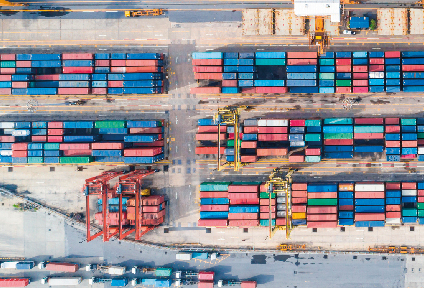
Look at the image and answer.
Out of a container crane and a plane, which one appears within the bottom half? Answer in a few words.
container crane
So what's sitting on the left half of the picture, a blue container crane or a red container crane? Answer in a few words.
red container crane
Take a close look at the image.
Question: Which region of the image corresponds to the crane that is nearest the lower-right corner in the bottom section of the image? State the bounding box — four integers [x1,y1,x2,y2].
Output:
[265,169,300,243]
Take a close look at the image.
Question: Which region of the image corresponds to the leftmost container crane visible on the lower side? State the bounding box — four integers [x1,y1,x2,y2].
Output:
[82,167,130,243]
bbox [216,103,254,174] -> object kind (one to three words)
container crane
